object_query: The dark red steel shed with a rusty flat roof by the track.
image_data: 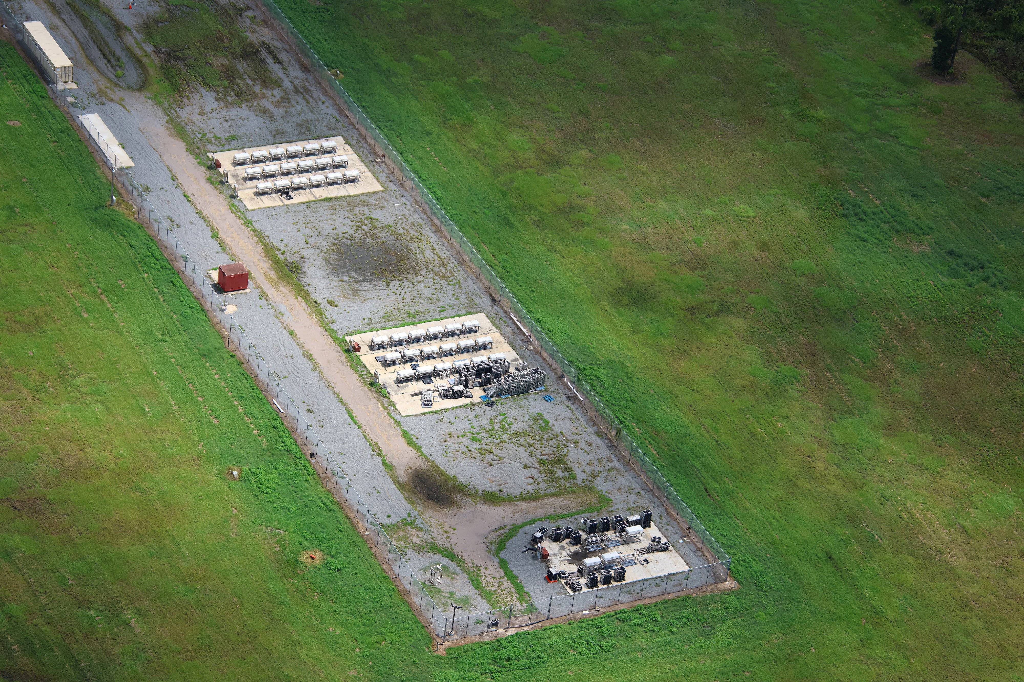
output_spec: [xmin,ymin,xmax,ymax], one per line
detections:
[218,262,249,292]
